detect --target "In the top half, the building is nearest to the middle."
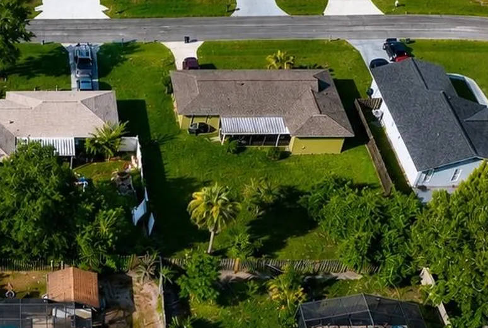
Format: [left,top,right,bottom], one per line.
[169,70,356,153]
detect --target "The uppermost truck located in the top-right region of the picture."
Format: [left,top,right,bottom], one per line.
[380,37,411,60]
